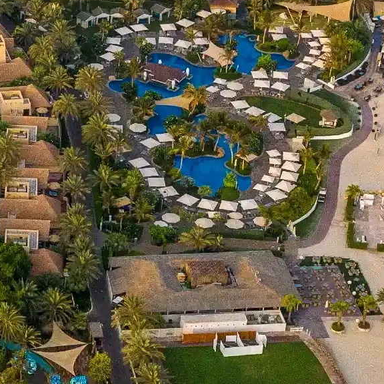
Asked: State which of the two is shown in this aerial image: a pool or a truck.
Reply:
pool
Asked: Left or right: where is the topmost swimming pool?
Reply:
right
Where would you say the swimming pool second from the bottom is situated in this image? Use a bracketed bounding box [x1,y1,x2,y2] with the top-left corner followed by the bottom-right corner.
[145,107,207,133]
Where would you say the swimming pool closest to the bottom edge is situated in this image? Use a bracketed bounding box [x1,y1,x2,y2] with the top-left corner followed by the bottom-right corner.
[173,132,252,197]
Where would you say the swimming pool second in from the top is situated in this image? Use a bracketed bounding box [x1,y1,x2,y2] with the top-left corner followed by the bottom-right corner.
[109,54,217,98]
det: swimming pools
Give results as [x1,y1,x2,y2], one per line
[218,30,294,75]
[173,132,252,197]
[145,107,207,133]
[109,54,217,98]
